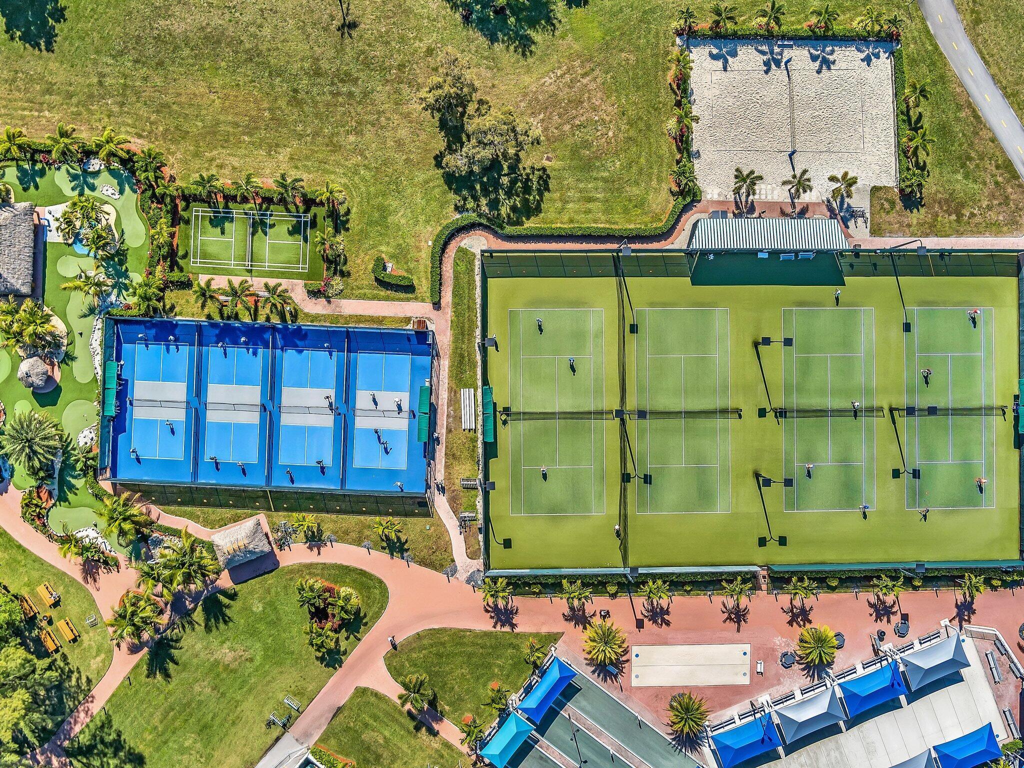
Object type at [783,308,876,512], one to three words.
tennis court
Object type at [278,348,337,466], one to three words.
sports court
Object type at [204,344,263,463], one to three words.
sports court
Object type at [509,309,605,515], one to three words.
tennis court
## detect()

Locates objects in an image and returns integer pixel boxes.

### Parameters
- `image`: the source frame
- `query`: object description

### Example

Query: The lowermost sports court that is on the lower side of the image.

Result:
[632,644,751,687]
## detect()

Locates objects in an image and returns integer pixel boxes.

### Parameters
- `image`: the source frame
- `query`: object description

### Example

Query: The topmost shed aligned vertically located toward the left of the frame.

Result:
[0,204,41,296]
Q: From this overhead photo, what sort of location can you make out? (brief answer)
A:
sports ground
